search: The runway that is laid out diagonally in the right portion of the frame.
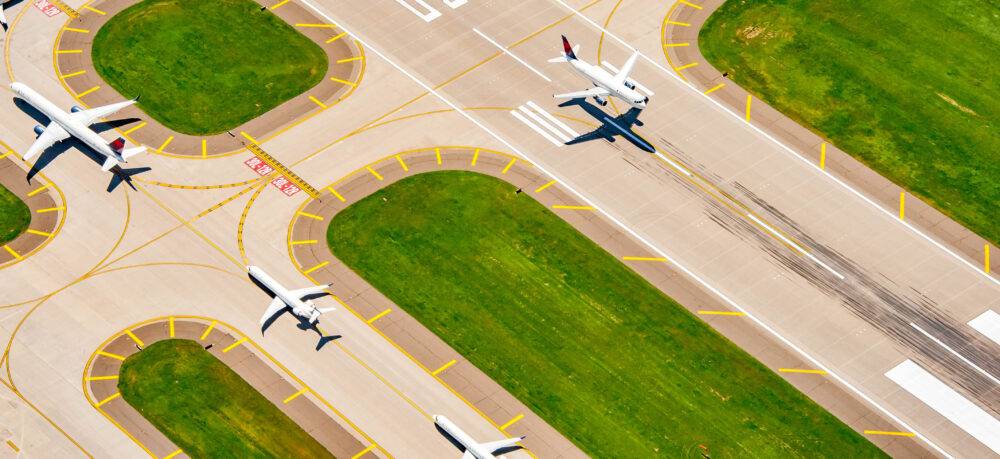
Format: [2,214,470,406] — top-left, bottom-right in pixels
[287,0,1000,459]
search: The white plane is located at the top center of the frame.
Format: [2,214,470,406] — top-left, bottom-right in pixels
[551,37,646,111]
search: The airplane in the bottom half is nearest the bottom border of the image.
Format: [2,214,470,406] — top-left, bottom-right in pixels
[434,417,527,459]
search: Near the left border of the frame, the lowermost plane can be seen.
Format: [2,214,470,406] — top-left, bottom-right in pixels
[10,84,147,170]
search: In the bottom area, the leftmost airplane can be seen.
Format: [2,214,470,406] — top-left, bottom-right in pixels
[247,268,336,325]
